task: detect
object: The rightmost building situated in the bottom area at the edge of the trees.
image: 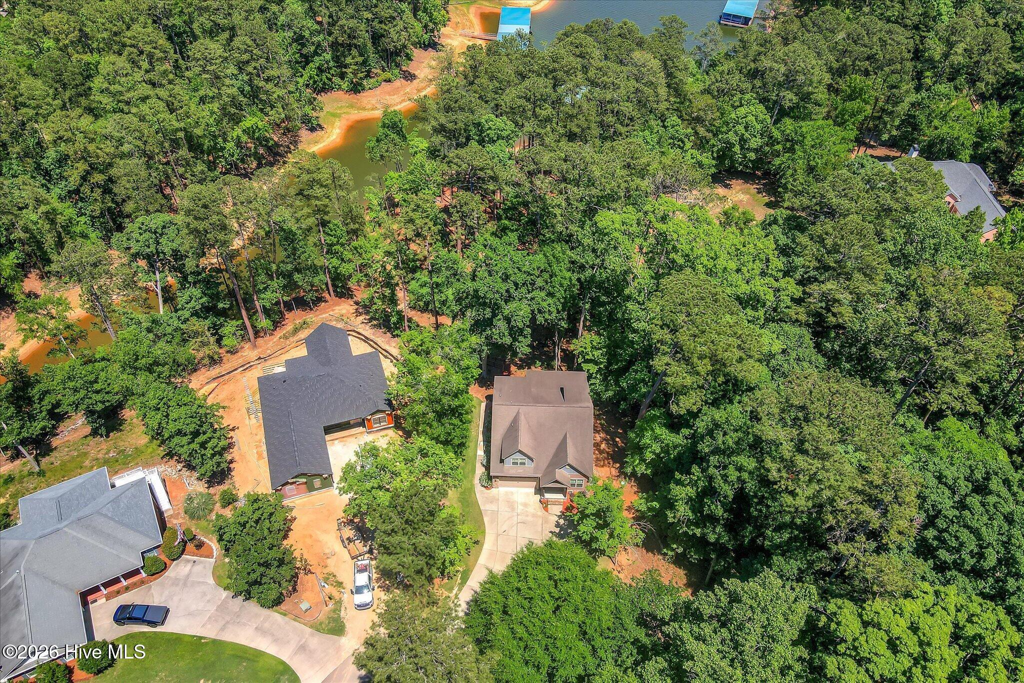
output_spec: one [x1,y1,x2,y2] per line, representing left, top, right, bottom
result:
[489,357,595,507]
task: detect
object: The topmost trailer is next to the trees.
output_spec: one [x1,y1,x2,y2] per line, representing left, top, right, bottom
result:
[336,516,368,560]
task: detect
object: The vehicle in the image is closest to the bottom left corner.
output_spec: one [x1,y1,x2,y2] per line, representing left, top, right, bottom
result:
[114,601,172,630]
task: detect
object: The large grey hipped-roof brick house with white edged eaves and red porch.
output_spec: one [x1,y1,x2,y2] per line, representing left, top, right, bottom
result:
[0,457,177,683]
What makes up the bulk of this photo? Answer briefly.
trees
